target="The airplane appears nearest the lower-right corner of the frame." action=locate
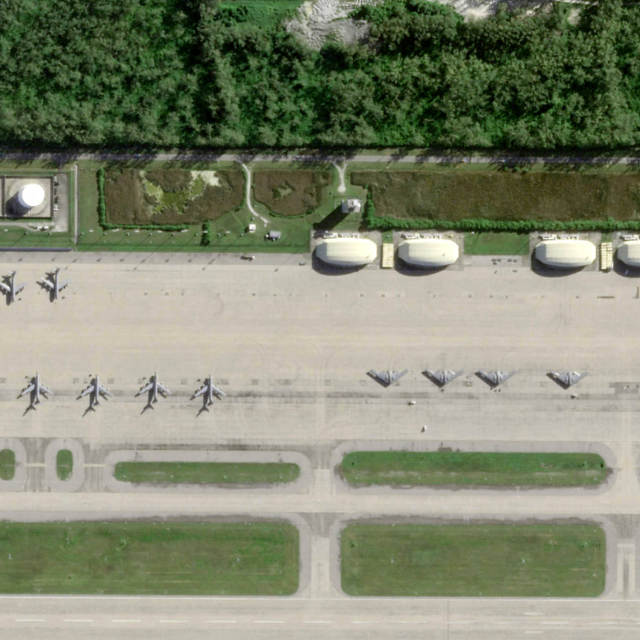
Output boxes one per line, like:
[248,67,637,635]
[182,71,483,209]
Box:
[552,370,587,386]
